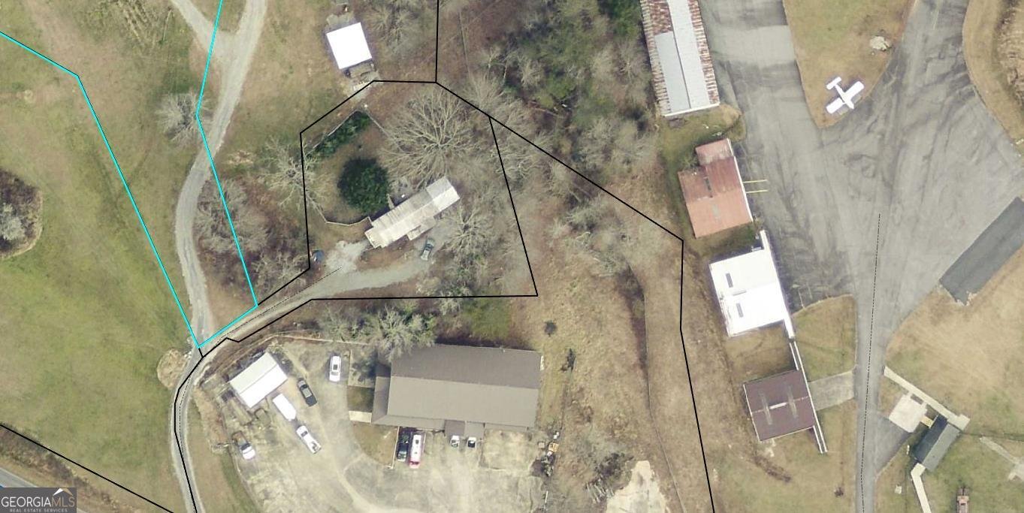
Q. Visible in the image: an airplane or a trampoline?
airplane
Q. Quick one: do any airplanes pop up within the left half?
No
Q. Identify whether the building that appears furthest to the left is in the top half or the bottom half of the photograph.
bottom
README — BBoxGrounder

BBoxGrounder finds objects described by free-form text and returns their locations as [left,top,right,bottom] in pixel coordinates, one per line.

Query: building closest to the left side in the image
[230,353,287,408]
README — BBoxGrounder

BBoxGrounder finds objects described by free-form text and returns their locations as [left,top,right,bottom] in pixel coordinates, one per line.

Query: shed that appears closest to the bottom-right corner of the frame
[910,416,959,470]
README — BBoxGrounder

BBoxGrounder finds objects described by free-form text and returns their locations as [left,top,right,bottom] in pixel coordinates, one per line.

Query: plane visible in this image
[827,76,864,111]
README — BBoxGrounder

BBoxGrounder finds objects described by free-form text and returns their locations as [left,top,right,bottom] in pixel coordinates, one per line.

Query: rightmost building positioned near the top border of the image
[639,0,720,117]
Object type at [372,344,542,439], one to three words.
house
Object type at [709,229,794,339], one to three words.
hangar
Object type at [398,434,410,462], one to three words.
vehicle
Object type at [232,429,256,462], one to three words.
truck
